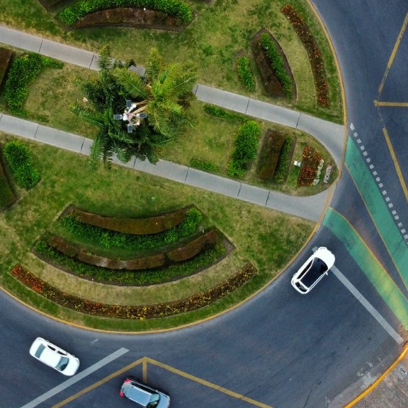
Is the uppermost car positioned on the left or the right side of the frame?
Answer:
right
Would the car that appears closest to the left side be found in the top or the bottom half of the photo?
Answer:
bottom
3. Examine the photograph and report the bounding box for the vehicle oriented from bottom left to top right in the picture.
[291,244,335,299]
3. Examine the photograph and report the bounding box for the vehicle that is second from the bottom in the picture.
[27,336,81,376]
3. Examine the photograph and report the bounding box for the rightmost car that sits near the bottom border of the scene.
[117,376,170,408]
